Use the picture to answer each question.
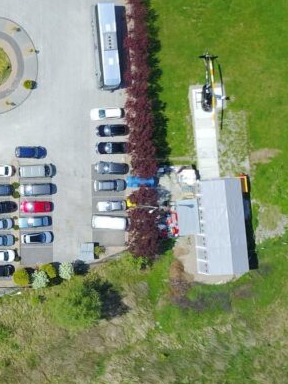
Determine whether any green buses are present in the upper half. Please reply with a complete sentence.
No, in the upper half there is no green bus.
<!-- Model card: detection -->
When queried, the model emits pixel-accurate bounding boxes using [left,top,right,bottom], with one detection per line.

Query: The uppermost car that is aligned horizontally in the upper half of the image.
[90,107,123,121]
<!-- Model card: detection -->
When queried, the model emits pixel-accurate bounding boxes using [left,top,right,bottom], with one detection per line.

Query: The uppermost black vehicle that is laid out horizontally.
[97,125,126,137]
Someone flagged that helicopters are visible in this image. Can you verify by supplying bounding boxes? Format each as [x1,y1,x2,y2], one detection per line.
[196,51,217,129]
